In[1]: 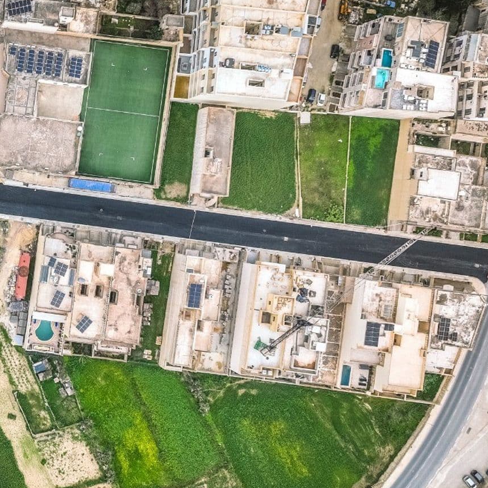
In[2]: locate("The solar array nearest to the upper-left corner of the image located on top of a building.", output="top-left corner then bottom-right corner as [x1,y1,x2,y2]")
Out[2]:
[6,0,33,13]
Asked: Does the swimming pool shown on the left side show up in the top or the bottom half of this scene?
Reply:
bottom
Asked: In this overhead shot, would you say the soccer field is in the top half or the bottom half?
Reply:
top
